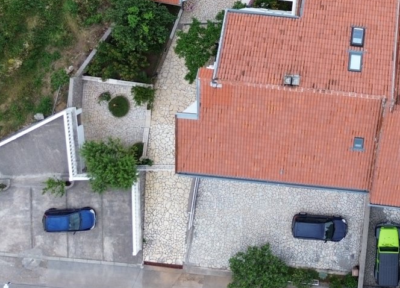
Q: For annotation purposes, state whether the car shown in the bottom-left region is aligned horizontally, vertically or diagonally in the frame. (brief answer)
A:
horizontally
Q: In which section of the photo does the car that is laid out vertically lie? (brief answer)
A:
bottom right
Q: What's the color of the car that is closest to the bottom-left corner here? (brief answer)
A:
blue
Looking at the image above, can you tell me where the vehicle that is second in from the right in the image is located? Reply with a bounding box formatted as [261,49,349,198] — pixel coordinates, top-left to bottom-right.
[290,211,348,243]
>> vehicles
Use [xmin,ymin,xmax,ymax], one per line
[290,211,348,243]
[373,226,400,288]
[40,204,98,235]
